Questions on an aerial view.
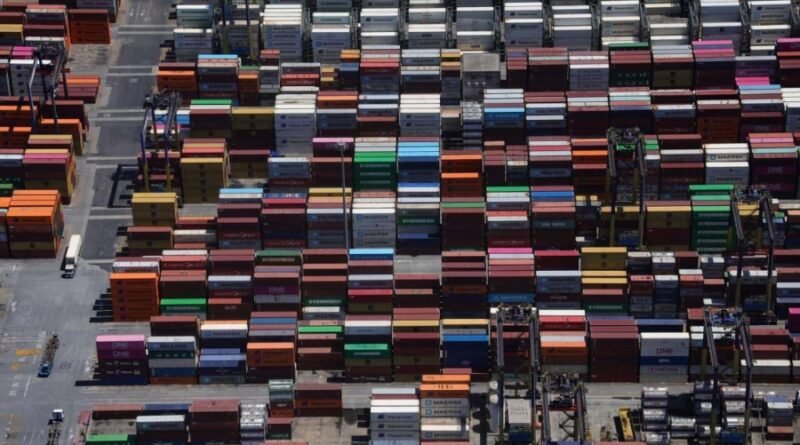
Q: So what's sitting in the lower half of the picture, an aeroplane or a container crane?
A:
container crane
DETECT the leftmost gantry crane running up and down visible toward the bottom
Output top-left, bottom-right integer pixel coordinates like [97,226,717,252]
[490,308,539,445]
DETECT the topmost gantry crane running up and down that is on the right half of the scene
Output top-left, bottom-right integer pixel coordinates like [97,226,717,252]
[600,130,649,252]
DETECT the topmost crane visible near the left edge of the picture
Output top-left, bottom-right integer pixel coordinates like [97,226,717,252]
[23,41,77,134]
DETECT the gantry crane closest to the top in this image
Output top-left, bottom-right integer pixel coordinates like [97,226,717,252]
[219,0,259,66]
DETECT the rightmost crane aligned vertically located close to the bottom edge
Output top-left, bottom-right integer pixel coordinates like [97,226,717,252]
[696,307,758,445]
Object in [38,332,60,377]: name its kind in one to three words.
truck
